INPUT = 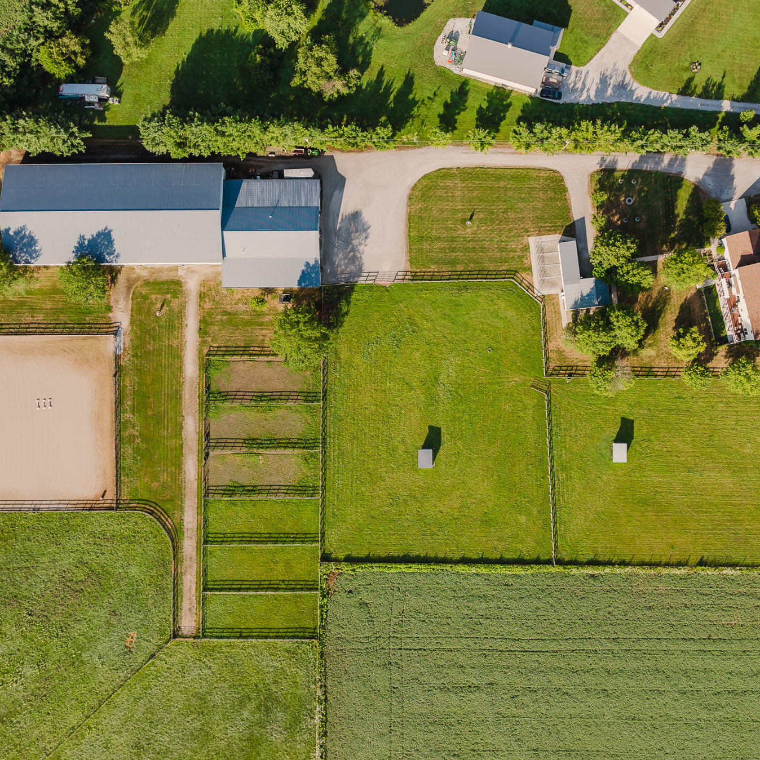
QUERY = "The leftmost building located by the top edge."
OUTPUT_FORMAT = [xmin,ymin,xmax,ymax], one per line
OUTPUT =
[461,11,565,96]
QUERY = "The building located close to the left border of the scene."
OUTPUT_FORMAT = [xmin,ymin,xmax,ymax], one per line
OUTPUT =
[0,162,227,266]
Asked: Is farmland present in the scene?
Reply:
Yes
